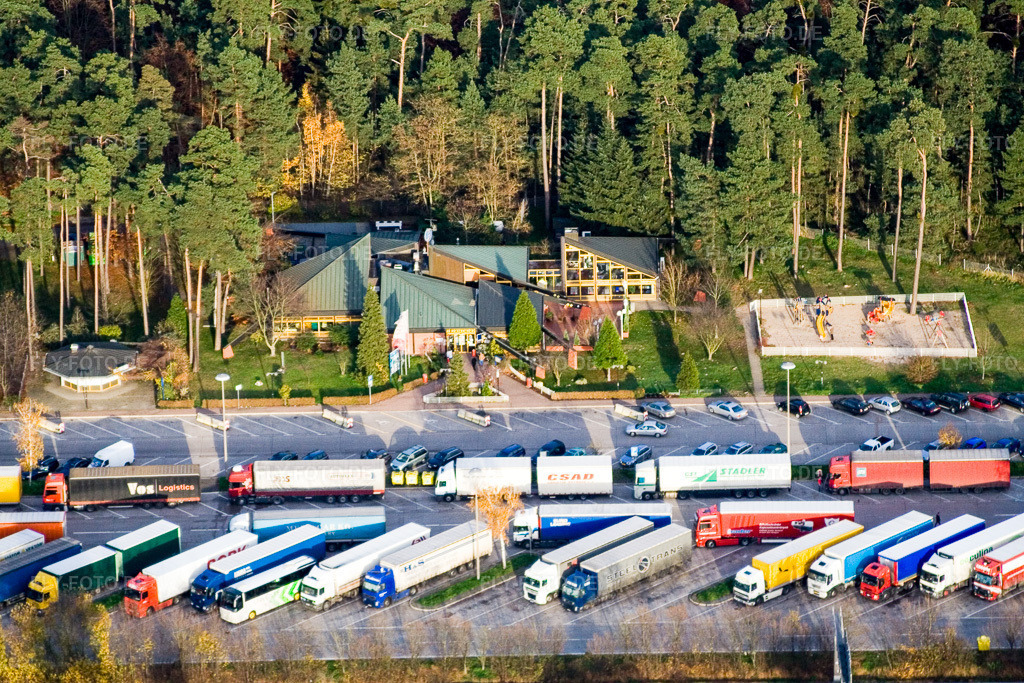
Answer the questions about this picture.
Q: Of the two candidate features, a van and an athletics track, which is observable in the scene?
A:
van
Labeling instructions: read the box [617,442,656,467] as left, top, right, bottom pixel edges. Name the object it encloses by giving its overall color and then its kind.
blue car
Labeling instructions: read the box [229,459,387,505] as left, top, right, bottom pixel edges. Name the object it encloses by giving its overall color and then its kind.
white truck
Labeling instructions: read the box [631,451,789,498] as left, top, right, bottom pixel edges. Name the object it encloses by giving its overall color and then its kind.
white truck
